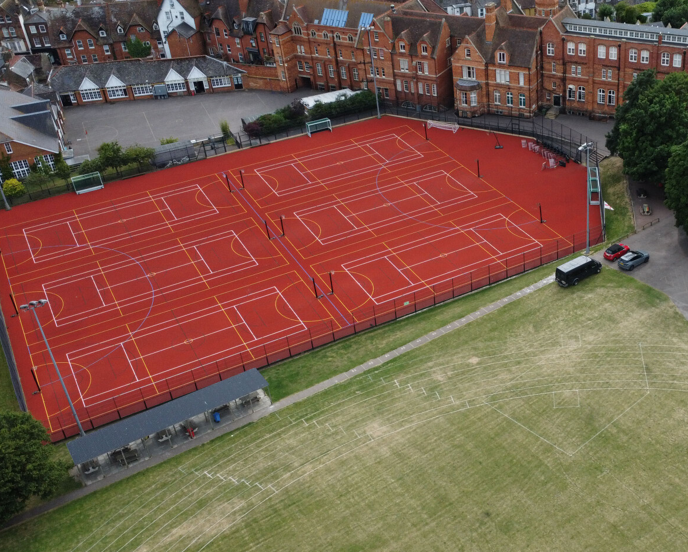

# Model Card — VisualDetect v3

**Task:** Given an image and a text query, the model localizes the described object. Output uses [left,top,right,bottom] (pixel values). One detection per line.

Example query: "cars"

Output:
[602,242,631,261]
[617,249,652,269]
